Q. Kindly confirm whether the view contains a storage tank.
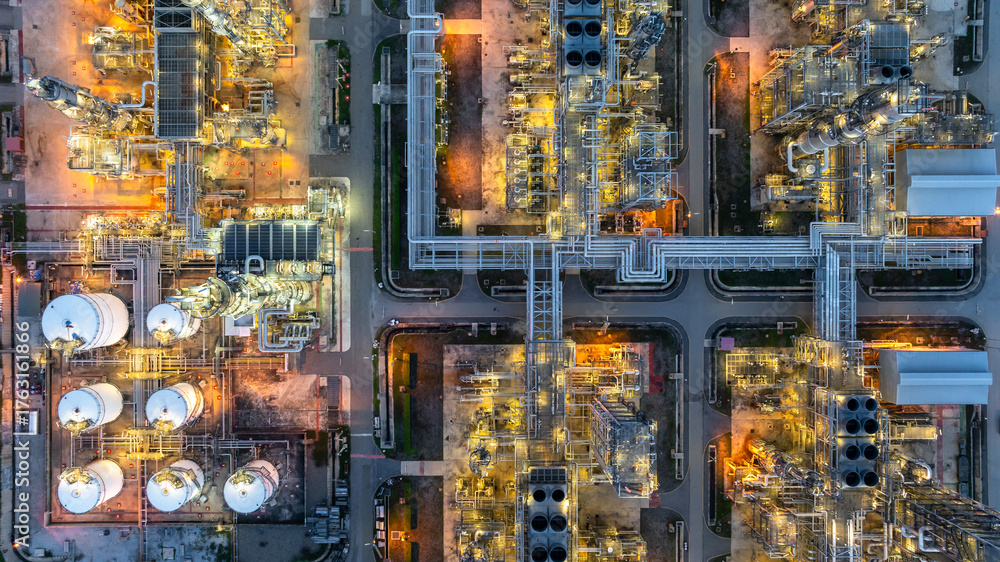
Yes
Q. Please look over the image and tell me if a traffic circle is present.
No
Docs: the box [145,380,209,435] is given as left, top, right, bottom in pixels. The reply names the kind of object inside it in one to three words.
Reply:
storage tank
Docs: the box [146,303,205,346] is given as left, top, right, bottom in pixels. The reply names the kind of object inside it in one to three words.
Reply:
storage tank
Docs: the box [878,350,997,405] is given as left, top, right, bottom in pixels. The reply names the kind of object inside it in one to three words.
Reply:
building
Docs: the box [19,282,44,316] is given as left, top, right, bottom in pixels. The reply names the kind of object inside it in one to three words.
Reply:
building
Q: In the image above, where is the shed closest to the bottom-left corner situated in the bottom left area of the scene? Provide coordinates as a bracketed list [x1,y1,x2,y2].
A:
[27,411,41,435]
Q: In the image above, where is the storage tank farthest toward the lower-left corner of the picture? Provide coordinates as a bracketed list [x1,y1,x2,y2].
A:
[57,458,126,514]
